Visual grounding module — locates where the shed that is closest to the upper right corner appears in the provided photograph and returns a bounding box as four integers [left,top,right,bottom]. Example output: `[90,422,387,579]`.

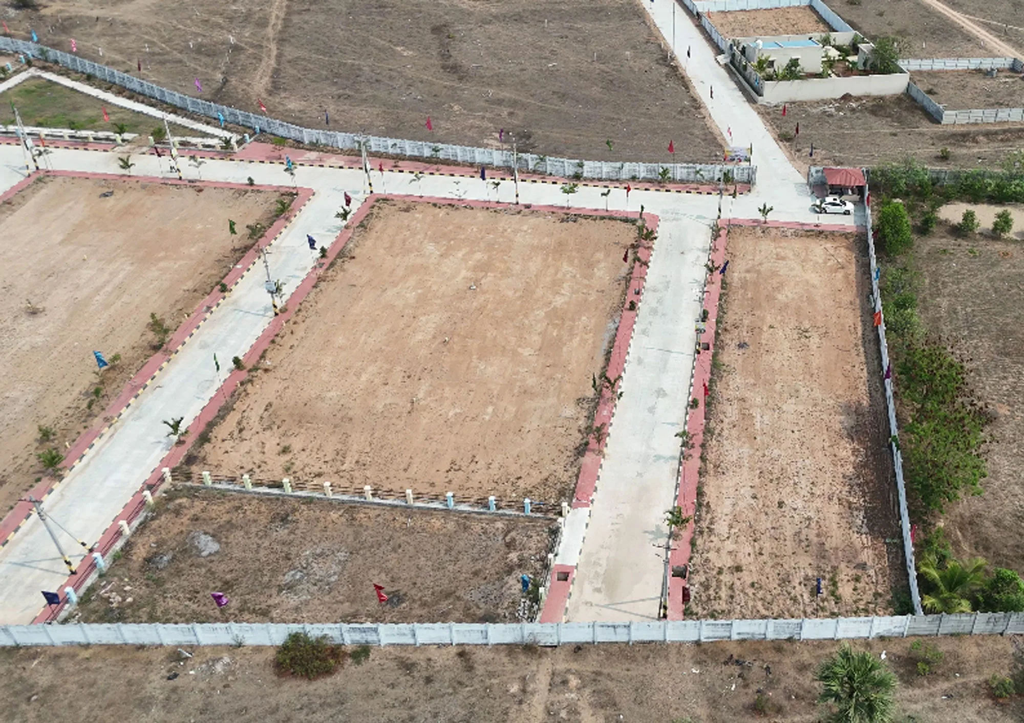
[856,43,876,72]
